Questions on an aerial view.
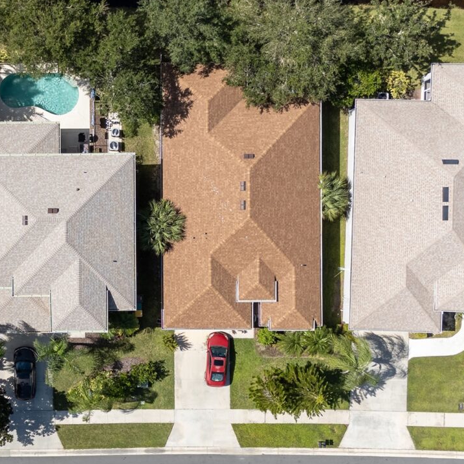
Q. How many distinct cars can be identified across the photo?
2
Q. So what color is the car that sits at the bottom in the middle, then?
red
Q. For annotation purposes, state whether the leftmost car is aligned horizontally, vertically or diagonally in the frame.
vertically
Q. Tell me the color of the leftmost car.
black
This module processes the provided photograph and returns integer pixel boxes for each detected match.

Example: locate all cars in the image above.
[11,346,39,400]
[204,332,233,387]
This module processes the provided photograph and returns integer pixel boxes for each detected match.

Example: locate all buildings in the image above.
[161,62,323,332]
[340,62,464,333]
[0,120,137,334]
